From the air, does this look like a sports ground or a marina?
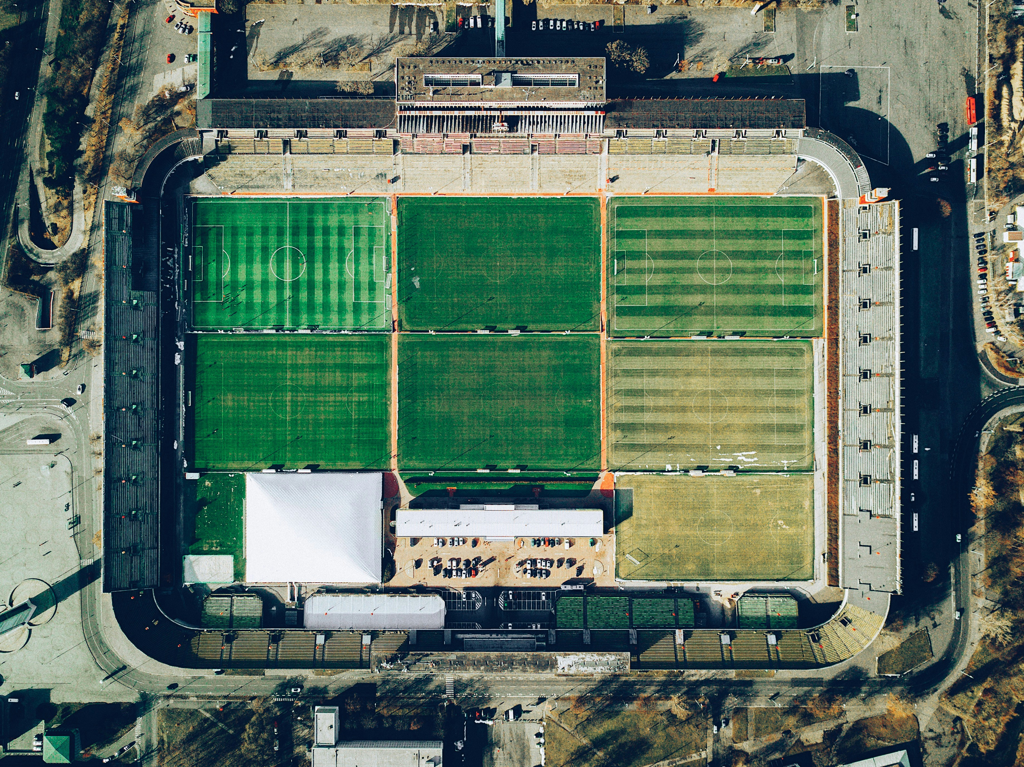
sports ground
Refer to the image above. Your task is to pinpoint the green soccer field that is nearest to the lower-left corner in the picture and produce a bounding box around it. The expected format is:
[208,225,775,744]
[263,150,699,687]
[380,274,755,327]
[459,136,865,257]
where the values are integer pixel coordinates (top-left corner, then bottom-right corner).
[185,333,392,472]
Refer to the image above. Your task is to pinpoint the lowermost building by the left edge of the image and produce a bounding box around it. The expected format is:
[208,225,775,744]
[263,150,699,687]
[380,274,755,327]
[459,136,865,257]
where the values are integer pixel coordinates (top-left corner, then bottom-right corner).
[43,718,94,763]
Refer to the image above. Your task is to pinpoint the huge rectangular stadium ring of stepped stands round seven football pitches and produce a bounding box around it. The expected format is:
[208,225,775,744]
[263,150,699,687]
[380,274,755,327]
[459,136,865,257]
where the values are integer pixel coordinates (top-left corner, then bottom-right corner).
[102,96,906,671]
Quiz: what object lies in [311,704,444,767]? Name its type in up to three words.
building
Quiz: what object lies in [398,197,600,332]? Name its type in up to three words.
soccer field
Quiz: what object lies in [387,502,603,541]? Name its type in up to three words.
building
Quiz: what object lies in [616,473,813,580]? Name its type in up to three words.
soccer field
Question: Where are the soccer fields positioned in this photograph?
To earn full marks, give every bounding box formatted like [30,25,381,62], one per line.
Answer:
[398,333,600,472]
[616,473,813,580]
[606,197,822,338]
[185,333,392,472]
[185,196,392,332]
[398,197,600,332]
[606,339,813,472]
